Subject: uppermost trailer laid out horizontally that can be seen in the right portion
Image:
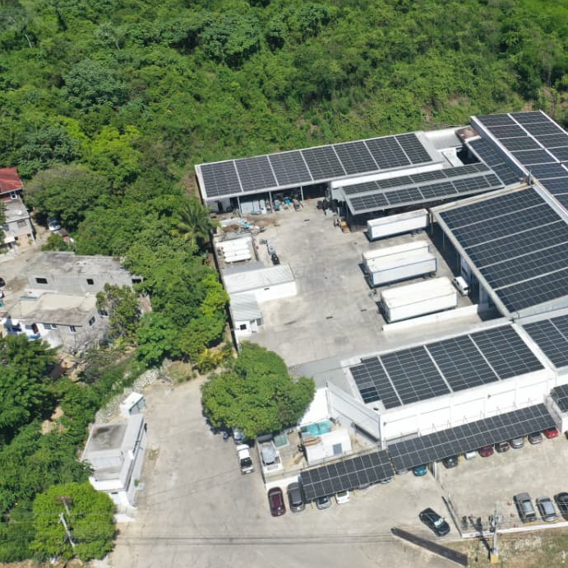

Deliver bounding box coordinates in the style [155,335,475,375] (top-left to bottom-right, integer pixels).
[367,209,430,243]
